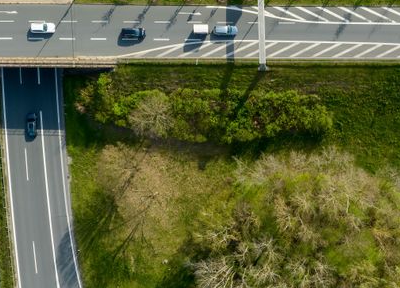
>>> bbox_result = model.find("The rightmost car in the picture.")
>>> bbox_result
[212,24,238,36]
